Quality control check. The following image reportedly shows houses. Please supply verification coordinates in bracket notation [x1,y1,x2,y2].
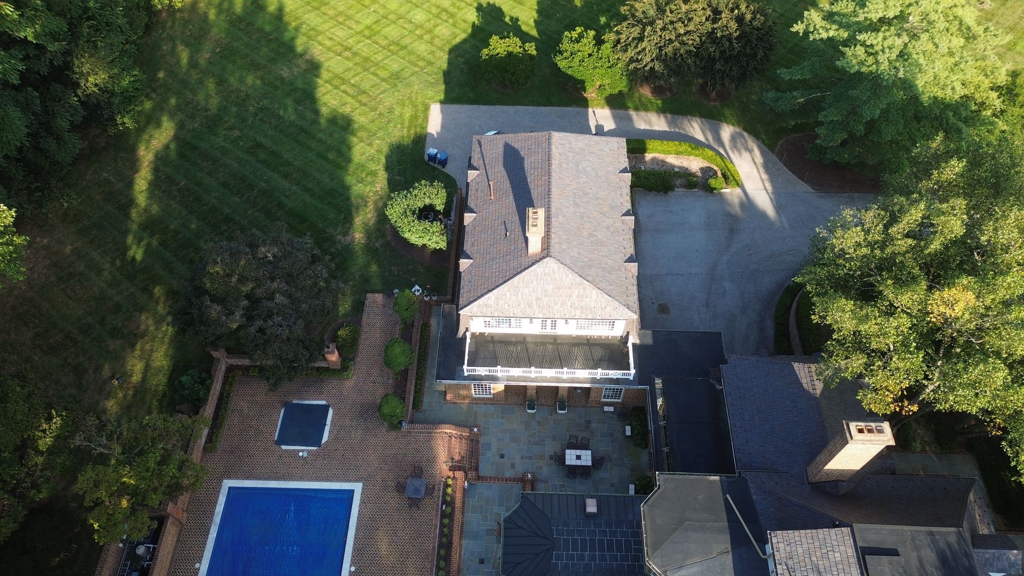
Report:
[641,323,1024,576]
[436,130,649,405]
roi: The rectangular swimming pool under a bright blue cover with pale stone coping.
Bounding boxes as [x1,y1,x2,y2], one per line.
[198,480,362,576]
